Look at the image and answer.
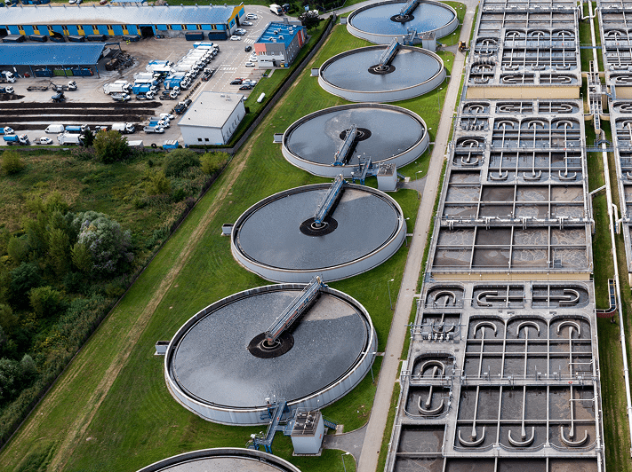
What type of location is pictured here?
industrial area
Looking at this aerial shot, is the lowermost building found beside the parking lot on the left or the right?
left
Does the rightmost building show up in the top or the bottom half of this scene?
top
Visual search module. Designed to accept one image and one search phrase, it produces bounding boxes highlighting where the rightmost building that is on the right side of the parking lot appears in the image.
[421,30,452,51]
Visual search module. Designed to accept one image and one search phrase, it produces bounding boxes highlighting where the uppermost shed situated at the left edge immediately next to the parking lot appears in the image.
[0,2,249,39]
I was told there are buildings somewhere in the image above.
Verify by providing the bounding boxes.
[421,30,452,51]
[177,93,245,144]
[375,162,419,191]
[0,2,249,39]
[289,411,355,456]
[253,18,307,68]
[0,42,142,79]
